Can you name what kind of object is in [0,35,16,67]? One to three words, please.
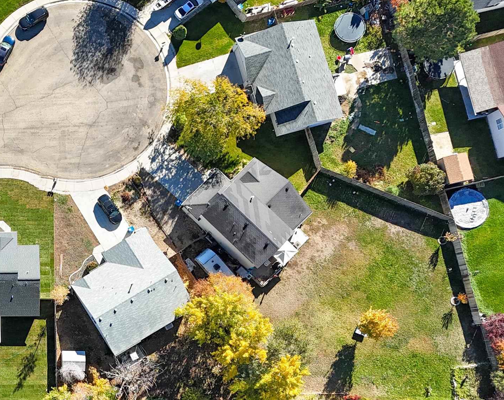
car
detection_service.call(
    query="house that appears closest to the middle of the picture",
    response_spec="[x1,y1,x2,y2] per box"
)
[179,157,310,266]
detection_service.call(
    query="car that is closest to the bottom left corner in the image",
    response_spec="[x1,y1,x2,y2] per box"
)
[96,192,124,226]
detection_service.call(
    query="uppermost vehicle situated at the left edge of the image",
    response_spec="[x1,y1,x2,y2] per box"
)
[17,4,51,32]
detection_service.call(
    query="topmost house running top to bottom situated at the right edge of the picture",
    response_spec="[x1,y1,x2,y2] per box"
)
[452,44,504,168]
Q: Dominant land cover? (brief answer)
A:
paved ground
